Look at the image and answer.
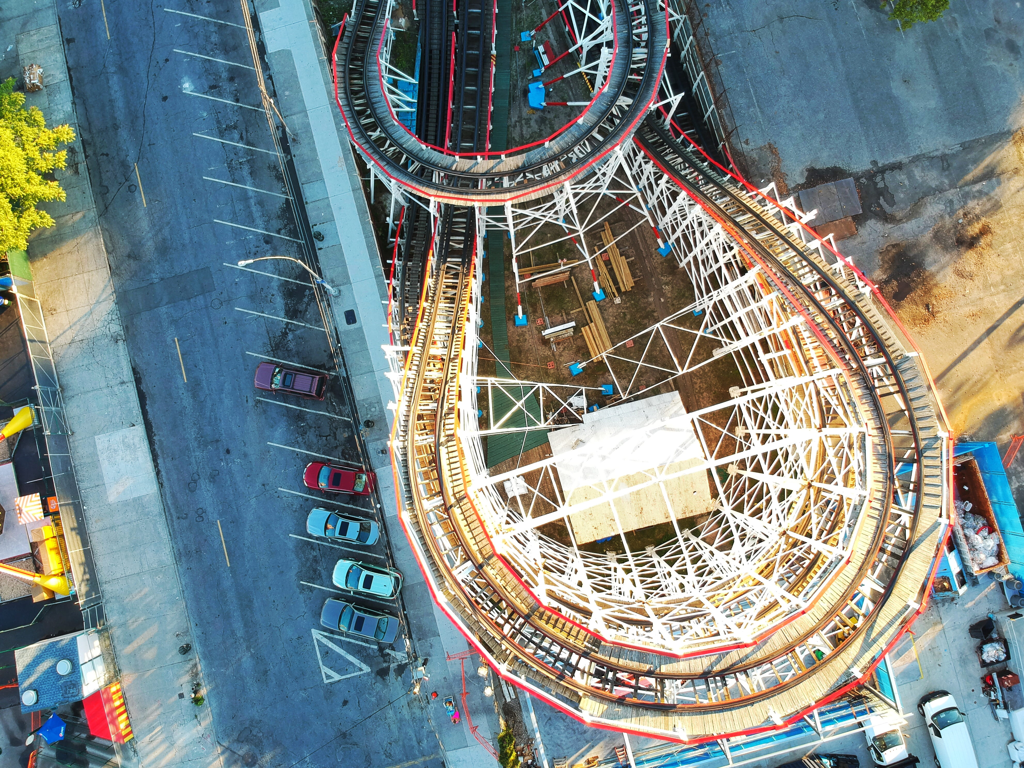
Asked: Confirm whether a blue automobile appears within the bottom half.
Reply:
Yes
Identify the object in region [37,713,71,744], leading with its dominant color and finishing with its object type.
blue umbrella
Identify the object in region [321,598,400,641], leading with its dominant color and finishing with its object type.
blue car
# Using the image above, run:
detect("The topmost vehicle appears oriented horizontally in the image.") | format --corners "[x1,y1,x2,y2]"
[253,361,330,401]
